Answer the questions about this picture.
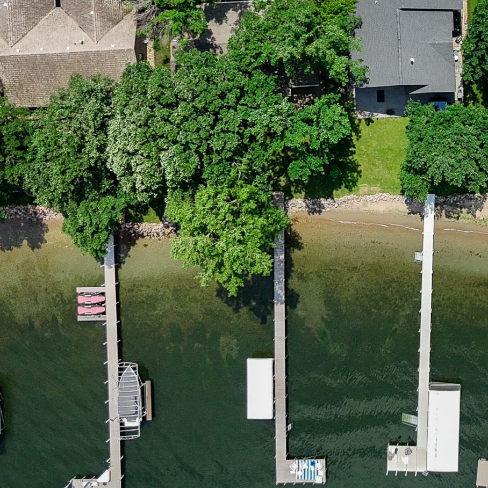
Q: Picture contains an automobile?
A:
No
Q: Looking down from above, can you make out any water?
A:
Yes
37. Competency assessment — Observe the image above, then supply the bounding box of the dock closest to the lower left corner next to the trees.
[69,243,126,488]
